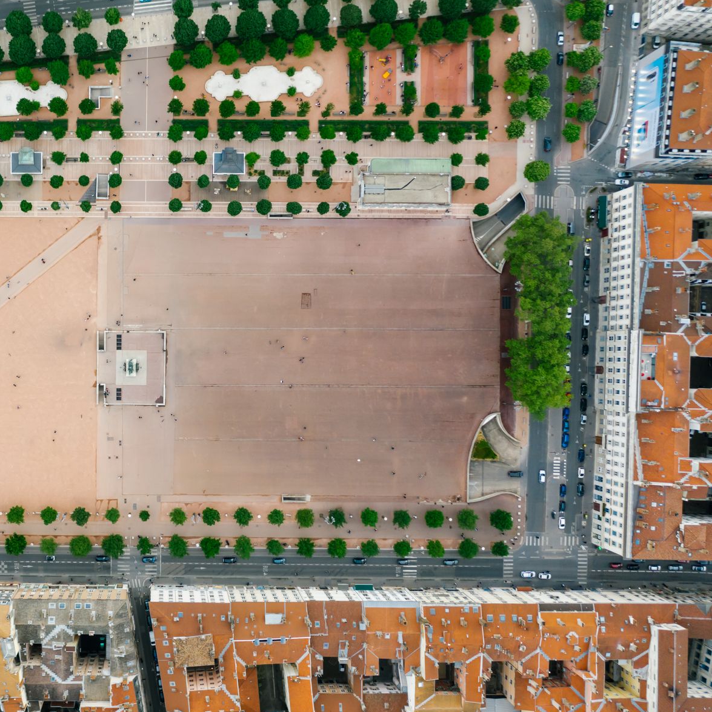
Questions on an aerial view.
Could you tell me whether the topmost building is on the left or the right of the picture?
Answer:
right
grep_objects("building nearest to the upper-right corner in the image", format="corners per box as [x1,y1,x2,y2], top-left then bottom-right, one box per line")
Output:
[642,0,712,33]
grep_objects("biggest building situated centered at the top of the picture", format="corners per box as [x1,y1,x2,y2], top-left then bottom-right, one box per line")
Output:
[355,159,453,210]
